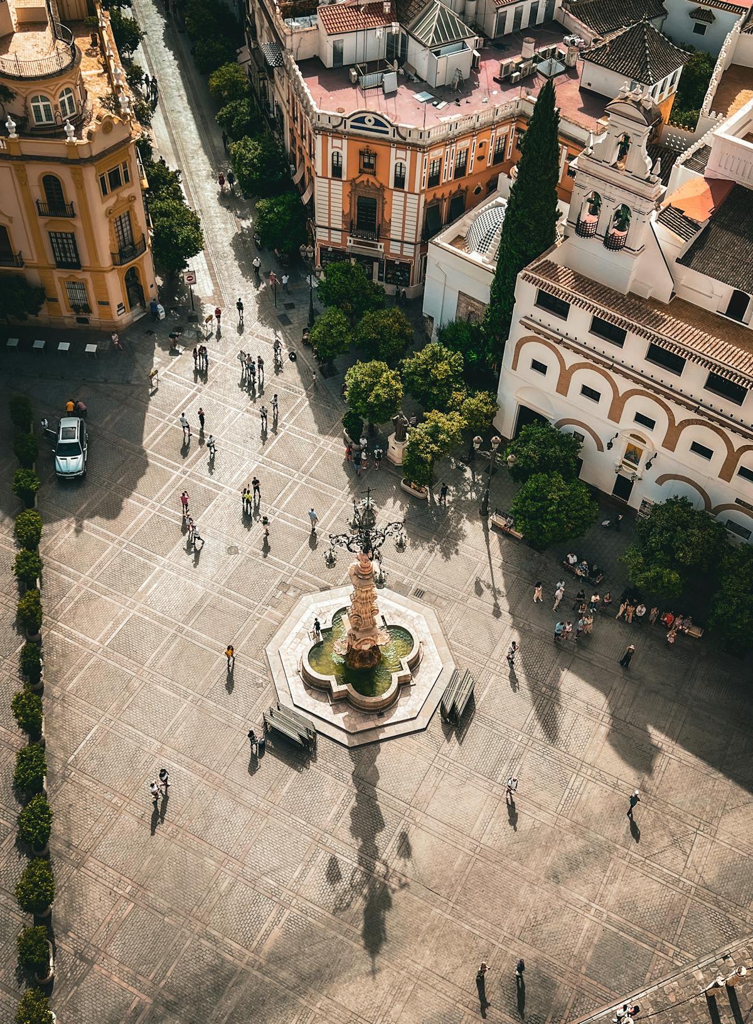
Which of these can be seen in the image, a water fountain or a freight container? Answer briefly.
water fountain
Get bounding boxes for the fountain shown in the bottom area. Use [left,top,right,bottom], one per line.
[261,491,462,758]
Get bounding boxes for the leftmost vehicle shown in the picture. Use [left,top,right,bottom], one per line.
[42,412,93,478]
